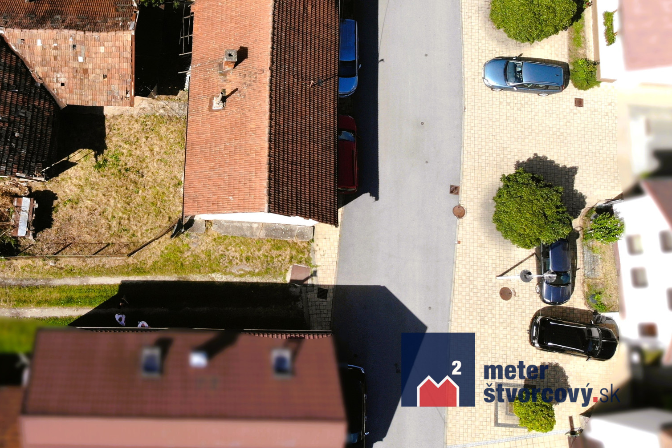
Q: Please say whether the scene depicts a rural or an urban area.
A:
urban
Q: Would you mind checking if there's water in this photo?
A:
No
